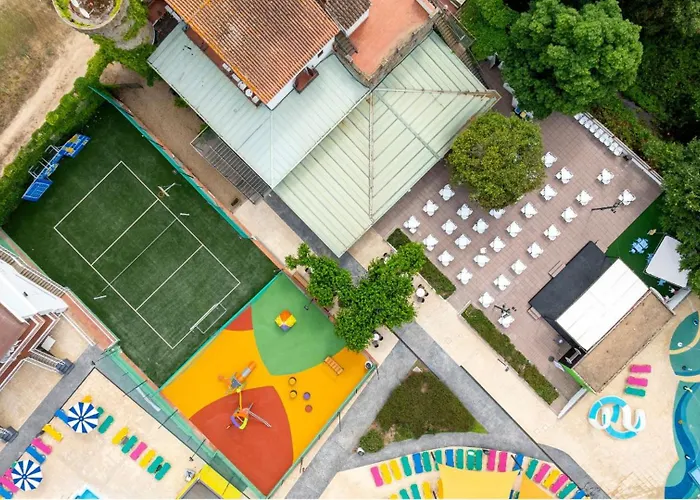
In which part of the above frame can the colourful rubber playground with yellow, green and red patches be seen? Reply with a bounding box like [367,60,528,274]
[166,276,375,495]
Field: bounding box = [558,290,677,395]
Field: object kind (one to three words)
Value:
shed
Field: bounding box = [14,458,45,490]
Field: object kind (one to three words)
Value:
umbrella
